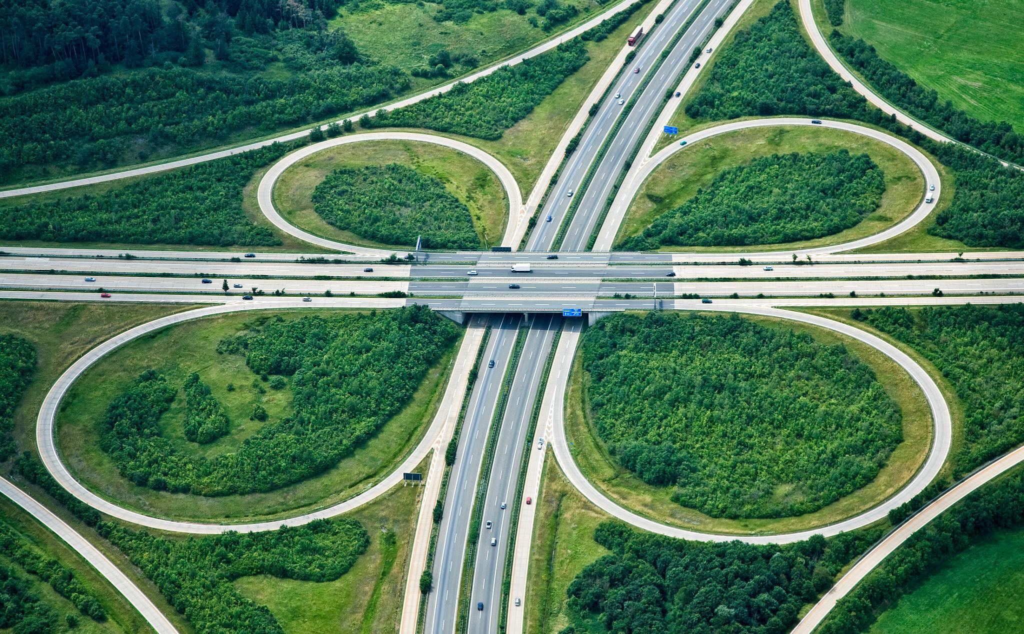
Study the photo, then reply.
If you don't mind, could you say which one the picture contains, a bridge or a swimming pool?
bridge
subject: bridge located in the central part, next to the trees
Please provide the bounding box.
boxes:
[430,250,642,324]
